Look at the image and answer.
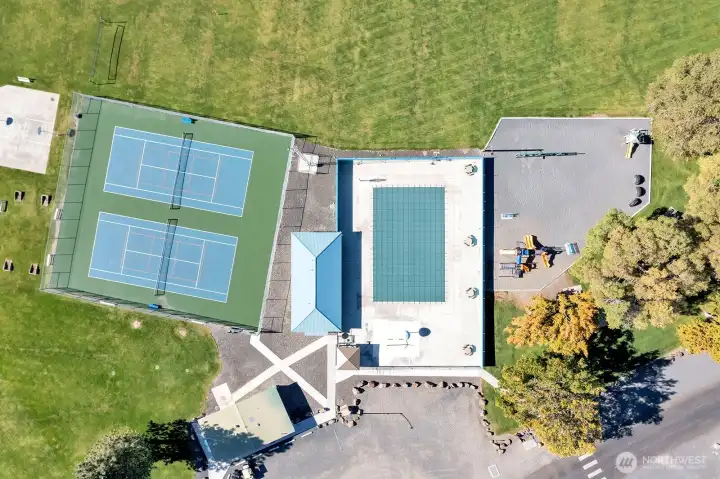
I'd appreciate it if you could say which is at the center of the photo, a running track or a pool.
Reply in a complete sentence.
Looking at the center of the photo, you will find a pool.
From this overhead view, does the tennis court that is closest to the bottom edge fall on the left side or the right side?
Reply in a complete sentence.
It is on the left.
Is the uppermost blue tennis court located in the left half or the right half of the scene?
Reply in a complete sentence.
You can find the uppermost blue tennis court on the left side of the picture.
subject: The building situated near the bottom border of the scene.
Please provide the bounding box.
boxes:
[198,385,296,465]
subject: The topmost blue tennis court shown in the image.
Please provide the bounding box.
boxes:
[103,127,254,216]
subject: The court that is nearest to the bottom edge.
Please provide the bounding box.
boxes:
[88,212,238,302]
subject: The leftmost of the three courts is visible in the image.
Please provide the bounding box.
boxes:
[0,85,60,174]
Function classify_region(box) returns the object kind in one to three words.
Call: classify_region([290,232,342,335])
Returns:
building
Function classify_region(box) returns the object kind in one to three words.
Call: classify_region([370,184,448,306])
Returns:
swimming pool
